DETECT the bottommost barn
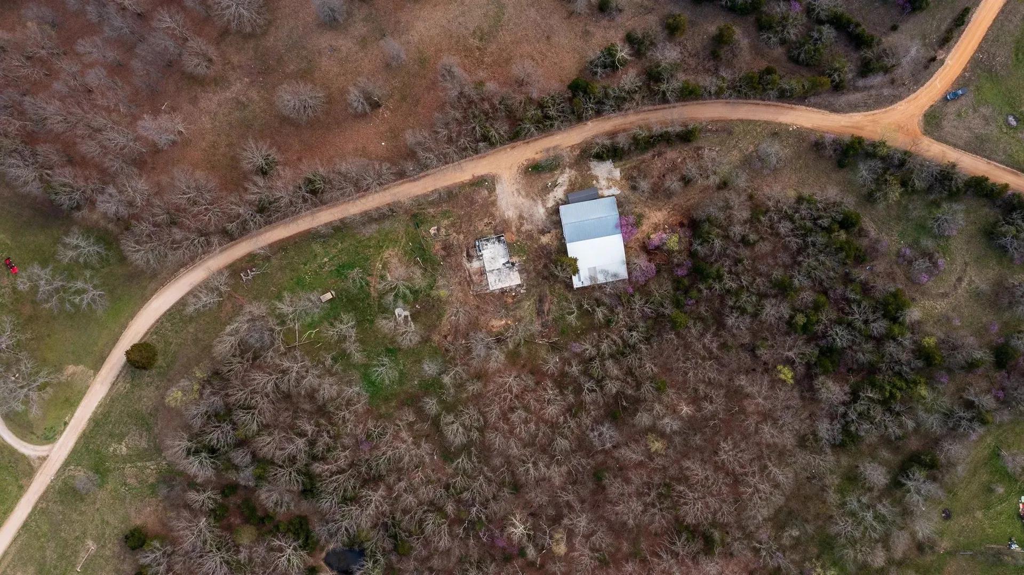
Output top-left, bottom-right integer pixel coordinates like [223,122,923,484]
[559,196,628,289]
